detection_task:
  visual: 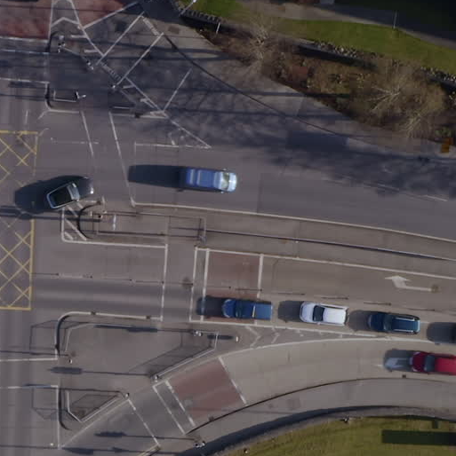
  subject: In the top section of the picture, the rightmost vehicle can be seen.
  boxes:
[180,168,235,192]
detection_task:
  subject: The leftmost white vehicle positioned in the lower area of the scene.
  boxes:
[298,302,347,325]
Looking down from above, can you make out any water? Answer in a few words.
No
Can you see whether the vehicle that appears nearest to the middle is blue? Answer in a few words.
Yes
